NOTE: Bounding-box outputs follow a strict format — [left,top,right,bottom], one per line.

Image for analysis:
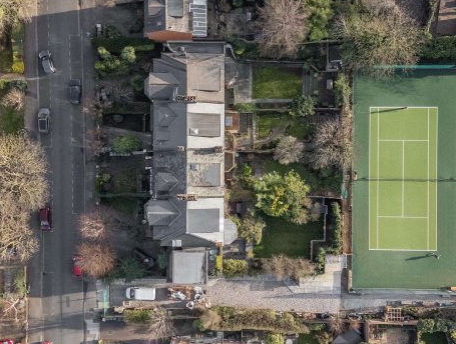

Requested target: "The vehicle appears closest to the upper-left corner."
[39,50,55,74]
